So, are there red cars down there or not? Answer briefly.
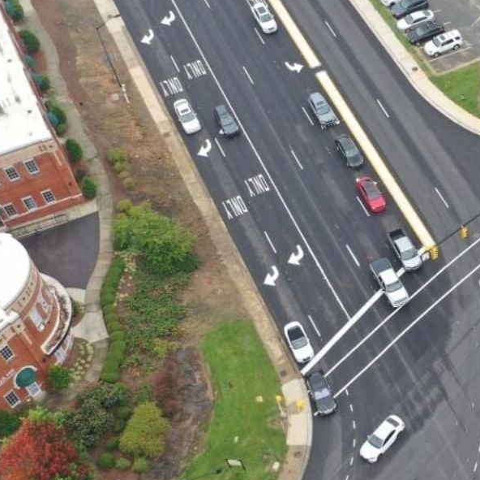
Yes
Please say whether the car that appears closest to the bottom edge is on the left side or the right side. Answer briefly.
right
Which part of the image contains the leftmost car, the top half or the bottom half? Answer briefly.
top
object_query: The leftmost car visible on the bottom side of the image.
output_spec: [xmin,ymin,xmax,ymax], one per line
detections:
[282,320,316,366]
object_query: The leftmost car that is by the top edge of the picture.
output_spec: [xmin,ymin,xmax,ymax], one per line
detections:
[252,1,278,31]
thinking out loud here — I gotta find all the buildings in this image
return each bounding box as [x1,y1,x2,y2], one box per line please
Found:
[0,0,84,226]
[0,228,81,424]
